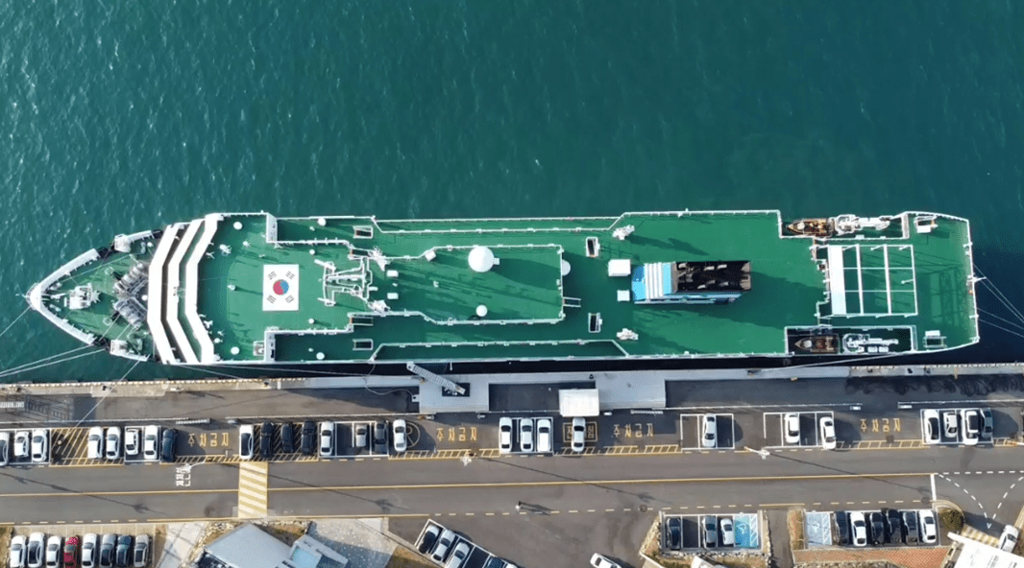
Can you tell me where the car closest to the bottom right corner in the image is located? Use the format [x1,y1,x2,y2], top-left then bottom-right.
[992,523,1015,555]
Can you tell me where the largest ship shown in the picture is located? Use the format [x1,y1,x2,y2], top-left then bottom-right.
[12,209,988,367]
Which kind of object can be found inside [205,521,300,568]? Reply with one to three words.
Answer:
building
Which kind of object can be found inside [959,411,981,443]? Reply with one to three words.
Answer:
car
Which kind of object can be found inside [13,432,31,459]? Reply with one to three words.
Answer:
car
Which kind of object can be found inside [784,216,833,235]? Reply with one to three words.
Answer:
boat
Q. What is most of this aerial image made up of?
water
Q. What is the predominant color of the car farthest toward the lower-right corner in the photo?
white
